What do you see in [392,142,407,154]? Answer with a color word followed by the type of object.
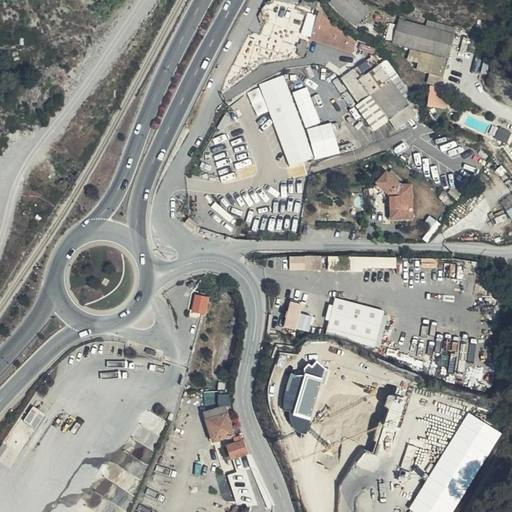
white vehicle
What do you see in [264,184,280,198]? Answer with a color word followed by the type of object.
white camper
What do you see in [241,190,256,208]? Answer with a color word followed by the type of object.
white camper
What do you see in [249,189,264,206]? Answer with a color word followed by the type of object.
white vehicle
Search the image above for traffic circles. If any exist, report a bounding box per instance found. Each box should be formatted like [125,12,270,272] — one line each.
[48,218,156,332]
